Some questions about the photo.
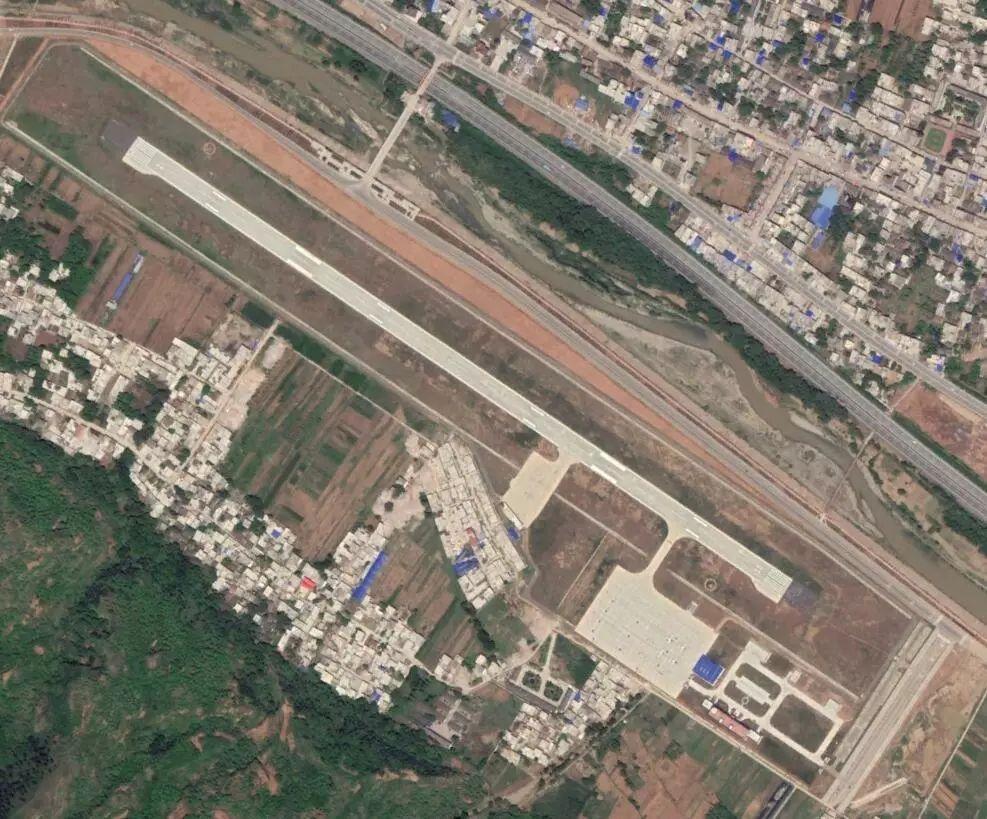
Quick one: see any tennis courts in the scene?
No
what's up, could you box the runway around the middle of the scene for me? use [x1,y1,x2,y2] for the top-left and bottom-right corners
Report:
[123,138,791,603]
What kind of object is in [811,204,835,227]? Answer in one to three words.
building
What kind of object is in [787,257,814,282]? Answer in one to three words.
house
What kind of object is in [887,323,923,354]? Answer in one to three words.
house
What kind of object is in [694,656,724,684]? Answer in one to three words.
hangar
